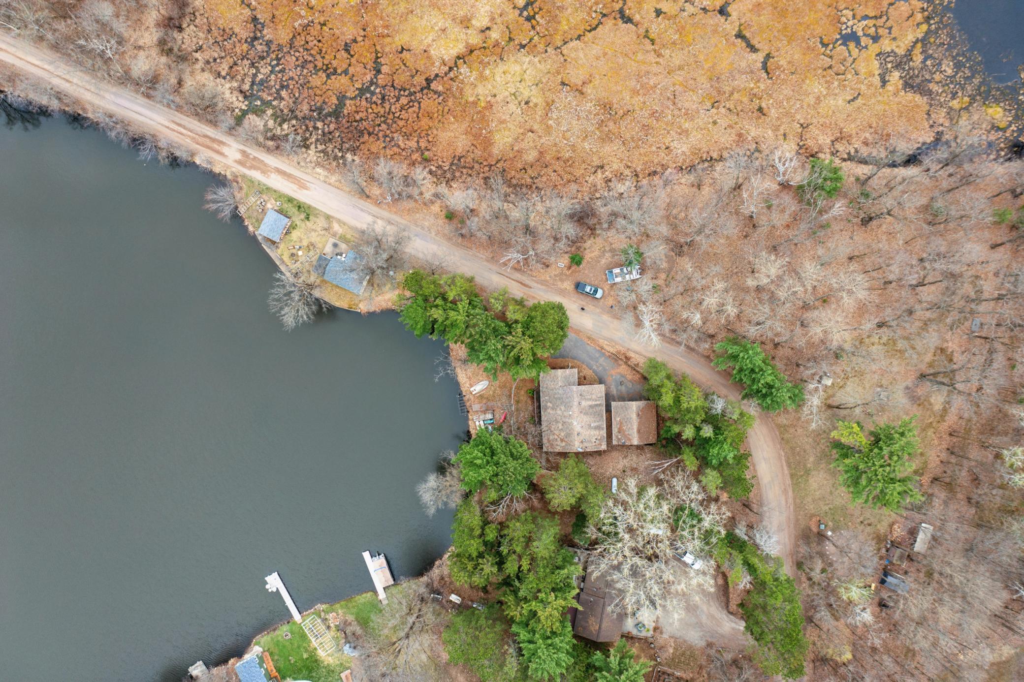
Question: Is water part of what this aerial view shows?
Yes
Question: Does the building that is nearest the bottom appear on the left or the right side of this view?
left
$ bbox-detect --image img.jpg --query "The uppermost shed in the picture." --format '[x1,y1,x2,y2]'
[258,208,293,242]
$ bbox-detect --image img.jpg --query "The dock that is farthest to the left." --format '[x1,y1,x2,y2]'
[266,572,303,627]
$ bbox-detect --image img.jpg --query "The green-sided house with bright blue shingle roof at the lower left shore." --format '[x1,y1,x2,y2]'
[235,649,283,682]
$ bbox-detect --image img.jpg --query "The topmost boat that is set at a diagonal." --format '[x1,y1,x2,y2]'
[469,381,488,396]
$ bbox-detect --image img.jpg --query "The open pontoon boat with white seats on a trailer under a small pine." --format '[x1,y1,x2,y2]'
[599,264,644,283]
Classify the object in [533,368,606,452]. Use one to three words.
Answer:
house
